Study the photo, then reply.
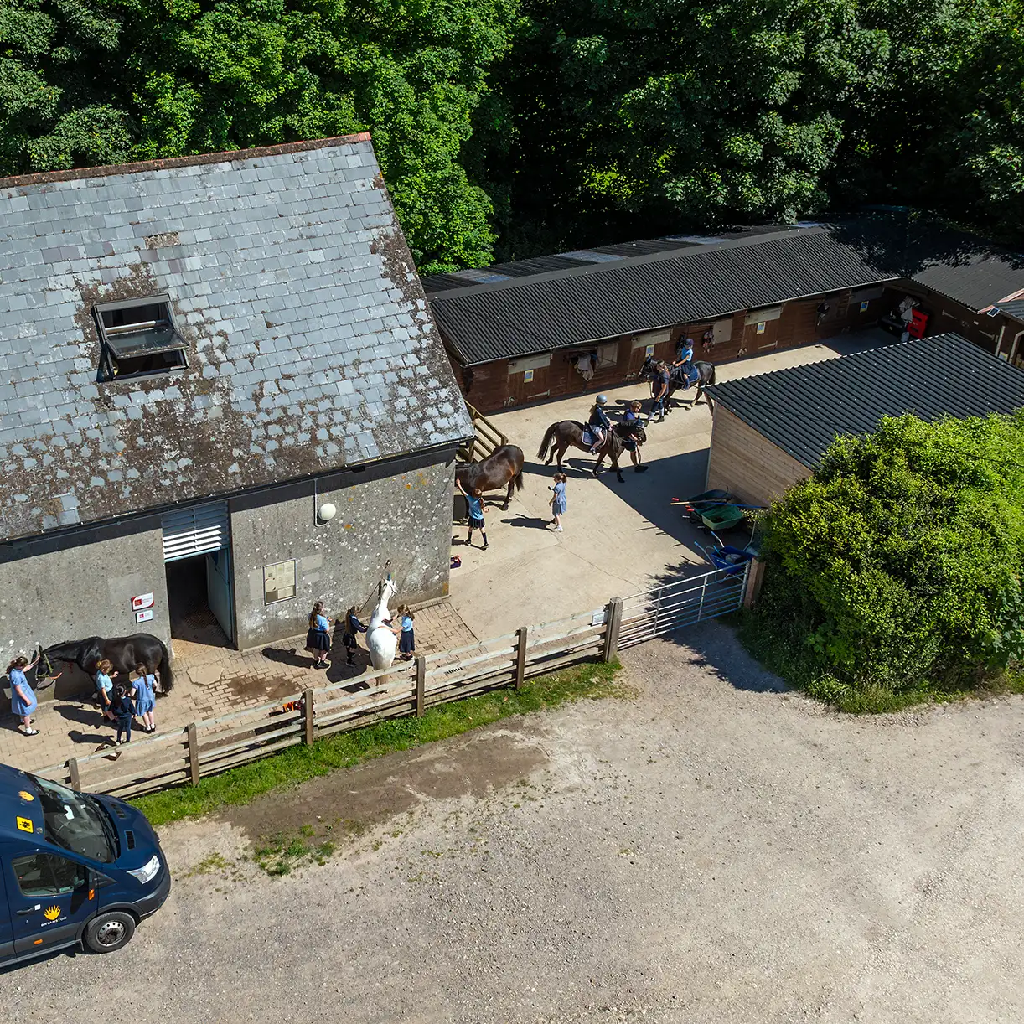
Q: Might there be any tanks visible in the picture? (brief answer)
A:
No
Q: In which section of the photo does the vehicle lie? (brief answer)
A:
bottom left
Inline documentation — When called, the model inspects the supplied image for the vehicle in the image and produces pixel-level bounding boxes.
[0,759,174,963]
